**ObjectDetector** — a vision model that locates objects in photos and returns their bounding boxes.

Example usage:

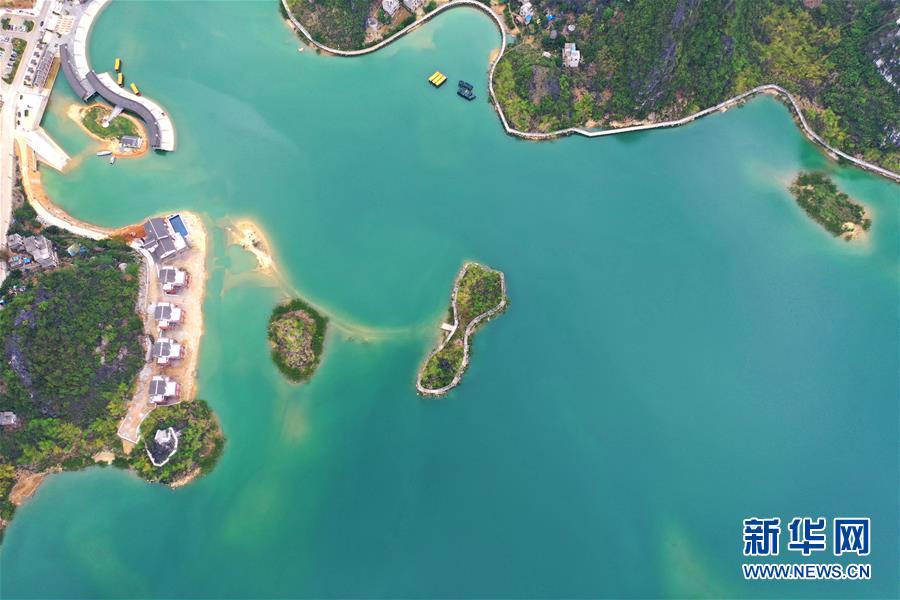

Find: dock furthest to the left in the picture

[95,73,176,150]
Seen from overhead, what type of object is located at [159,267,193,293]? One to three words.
house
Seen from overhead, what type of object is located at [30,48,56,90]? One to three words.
building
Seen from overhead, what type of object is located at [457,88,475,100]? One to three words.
boat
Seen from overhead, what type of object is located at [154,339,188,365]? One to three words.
house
